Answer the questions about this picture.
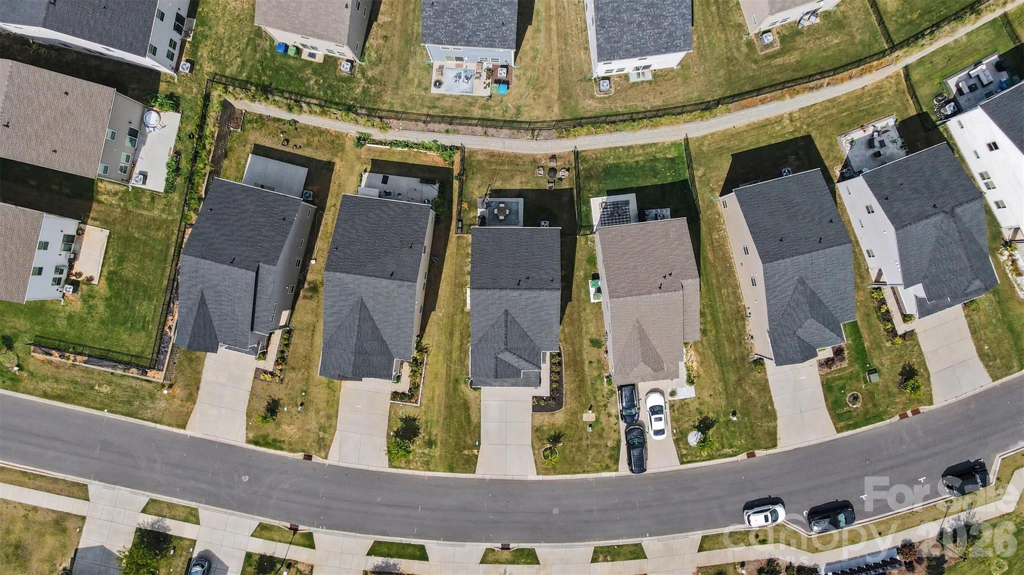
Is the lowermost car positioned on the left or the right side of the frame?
left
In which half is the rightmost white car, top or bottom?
bottom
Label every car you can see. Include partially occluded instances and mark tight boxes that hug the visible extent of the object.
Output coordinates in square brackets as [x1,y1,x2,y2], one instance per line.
[804,506,854,532]
[936,466,989,499]
[616,381,641,428]
[624,423,650,473]
[189,550,216,575]
[643,388,667,440]
[739,501,785,527]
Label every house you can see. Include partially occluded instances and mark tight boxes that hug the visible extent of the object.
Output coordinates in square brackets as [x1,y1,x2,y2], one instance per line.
[0,60,146,185]
[469,227,563,384]
[0,204,80,303]
[584,0,693,79]
[734,0,829,35]
[594,216,700,383]
[836,141,1001,320]
[318,192,435,383]
[255,0,372,63]
[421,0,518,67]
[172,176,317,361]
[719,167,857,366]
[0,0,190,73]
